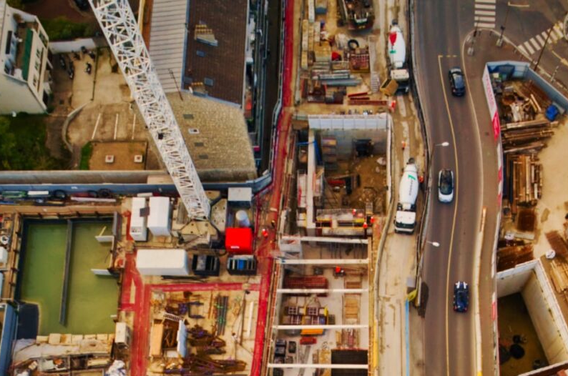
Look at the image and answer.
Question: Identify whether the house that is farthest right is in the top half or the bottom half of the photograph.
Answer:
top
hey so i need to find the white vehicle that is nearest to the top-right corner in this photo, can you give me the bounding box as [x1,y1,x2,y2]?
[387,7,412,88]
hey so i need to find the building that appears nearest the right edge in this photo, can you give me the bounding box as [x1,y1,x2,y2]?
[145,0,269,165]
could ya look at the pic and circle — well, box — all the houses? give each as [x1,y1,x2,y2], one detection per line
[0,0,64,108]
[145,0,269,165]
